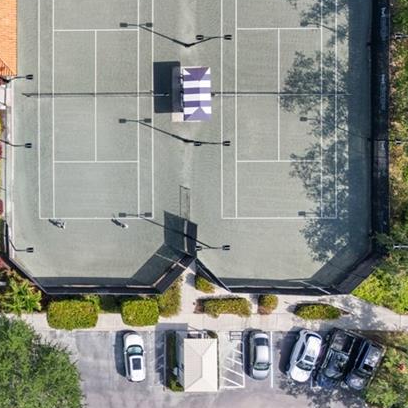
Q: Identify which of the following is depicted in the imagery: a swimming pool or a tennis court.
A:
tennis court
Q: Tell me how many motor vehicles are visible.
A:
5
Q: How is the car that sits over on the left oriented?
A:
vertically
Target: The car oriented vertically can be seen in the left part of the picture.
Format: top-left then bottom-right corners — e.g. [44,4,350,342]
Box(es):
[123,330,147,382]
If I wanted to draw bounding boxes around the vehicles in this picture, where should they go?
[315,328,360,386]
[123,330,147,382]
[343,334,387,392]
[286,327,322,382]
[247,328,273,379]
